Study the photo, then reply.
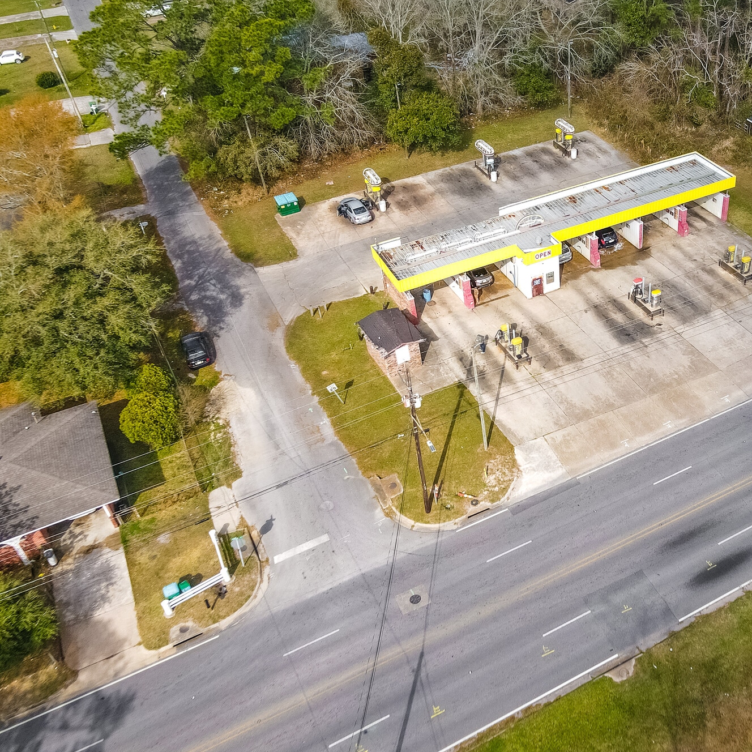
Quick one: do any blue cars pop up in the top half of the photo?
No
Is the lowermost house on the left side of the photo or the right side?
left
